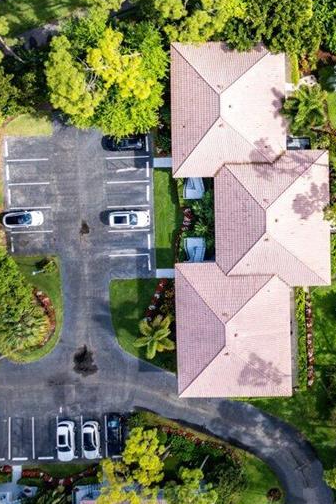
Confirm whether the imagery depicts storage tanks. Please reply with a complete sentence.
No, the frame has no storage tank in it.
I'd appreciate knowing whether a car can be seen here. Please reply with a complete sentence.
Yes, a car appears in the view.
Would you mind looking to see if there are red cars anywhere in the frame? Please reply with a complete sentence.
No, there's no red car here.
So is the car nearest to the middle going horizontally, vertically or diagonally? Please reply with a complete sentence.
In this picture, the car nearest to the middle lies horizontally.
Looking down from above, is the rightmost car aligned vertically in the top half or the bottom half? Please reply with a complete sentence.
The bottom half of the photo is where the rightmost car aligned vertically is.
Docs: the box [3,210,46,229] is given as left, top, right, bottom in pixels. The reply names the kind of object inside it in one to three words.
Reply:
car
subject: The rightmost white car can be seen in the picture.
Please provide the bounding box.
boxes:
[109,209,152,229]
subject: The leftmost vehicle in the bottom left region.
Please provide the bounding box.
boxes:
[55,419,78,461]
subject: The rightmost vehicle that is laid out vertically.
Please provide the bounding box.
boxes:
[103,413,124,456]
